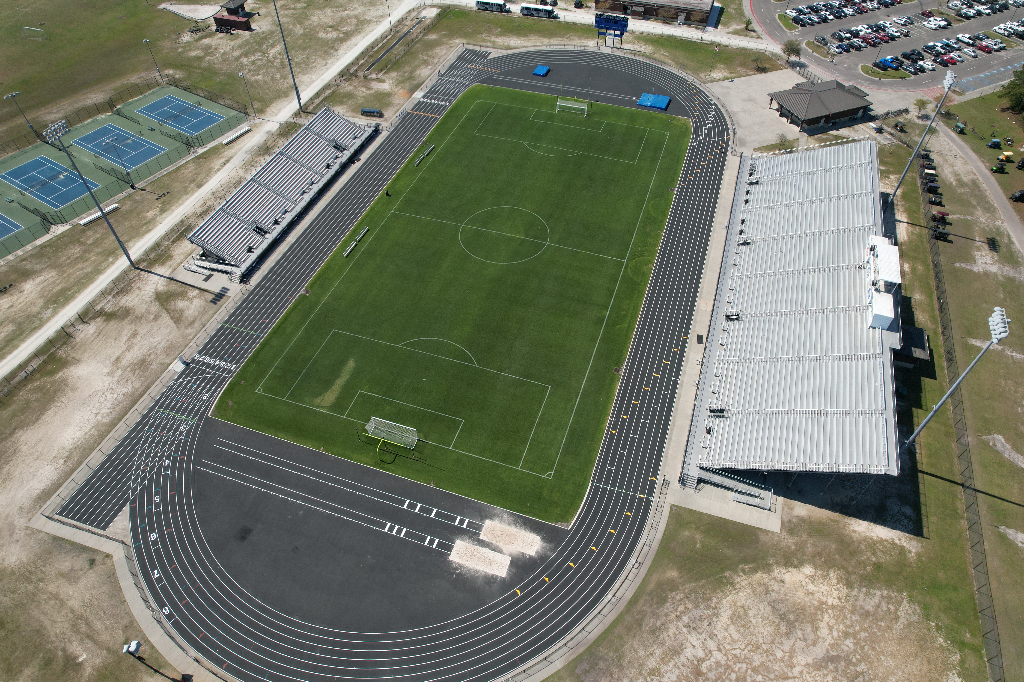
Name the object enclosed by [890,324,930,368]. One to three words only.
building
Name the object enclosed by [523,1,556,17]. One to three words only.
vehicle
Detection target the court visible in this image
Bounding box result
[0,94,225,239]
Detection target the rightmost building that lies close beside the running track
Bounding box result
[767,73,873,132]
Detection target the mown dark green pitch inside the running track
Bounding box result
[207,83,692,528]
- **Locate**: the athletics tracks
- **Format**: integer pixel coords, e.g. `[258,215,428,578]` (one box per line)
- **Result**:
[53,48,731,682]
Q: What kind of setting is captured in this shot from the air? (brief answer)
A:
sports ground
